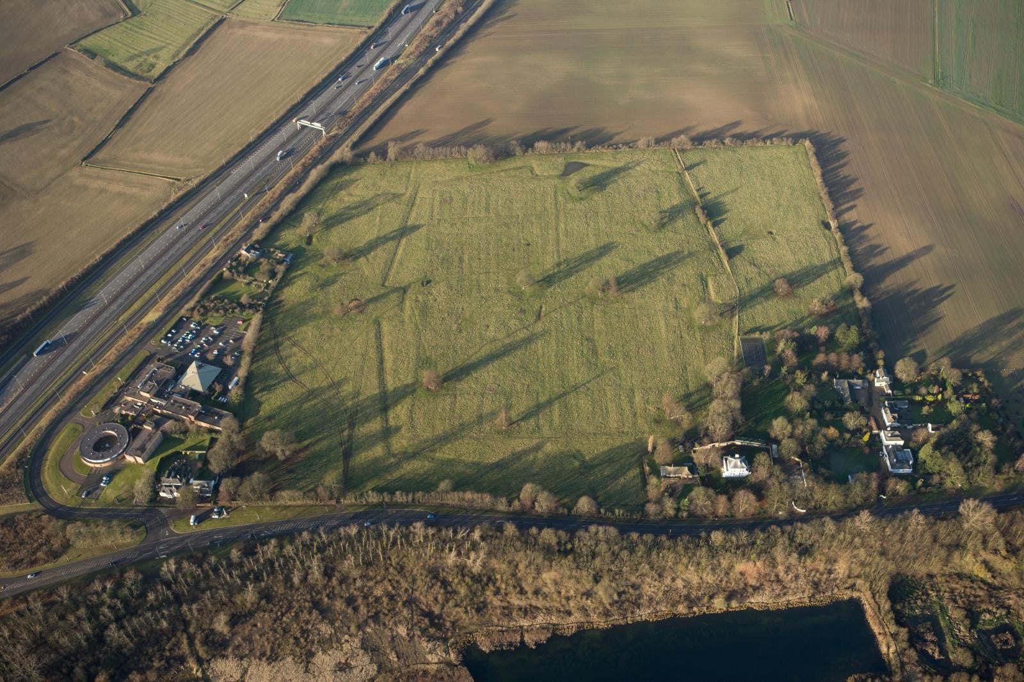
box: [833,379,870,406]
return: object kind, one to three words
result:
barn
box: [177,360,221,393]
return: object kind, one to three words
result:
building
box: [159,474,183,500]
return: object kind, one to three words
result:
house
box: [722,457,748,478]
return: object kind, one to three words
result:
house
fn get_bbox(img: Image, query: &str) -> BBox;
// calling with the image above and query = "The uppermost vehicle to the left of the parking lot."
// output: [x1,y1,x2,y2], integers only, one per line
[33,338,52,357]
